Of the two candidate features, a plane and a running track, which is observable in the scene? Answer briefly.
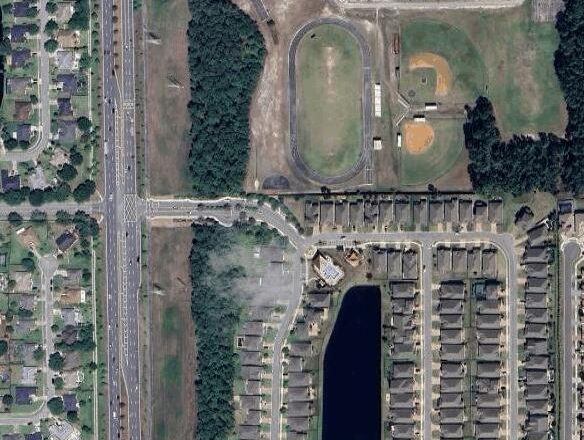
running track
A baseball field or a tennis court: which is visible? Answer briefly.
baseball field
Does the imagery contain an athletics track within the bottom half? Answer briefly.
No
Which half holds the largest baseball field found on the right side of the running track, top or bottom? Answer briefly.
top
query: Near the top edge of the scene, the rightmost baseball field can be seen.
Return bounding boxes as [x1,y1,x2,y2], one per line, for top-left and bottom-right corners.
[401,19,485,105]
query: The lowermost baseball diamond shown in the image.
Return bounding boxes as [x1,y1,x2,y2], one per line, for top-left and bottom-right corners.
[401,118,466,184]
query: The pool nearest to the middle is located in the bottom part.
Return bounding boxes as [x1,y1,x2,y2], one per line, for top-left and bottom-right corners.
[313,256,345,286]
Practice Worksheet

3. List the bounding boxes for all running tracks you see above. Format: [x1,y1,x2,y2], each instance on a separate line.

[289,18,371,184]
